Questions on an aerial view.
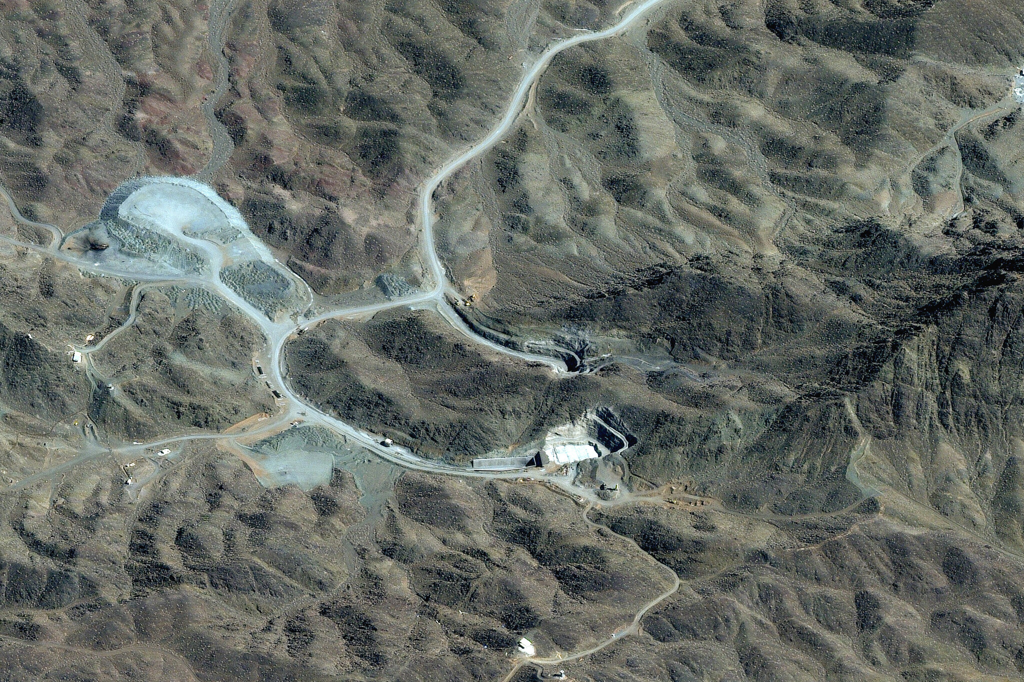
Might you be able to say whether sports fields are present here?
No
